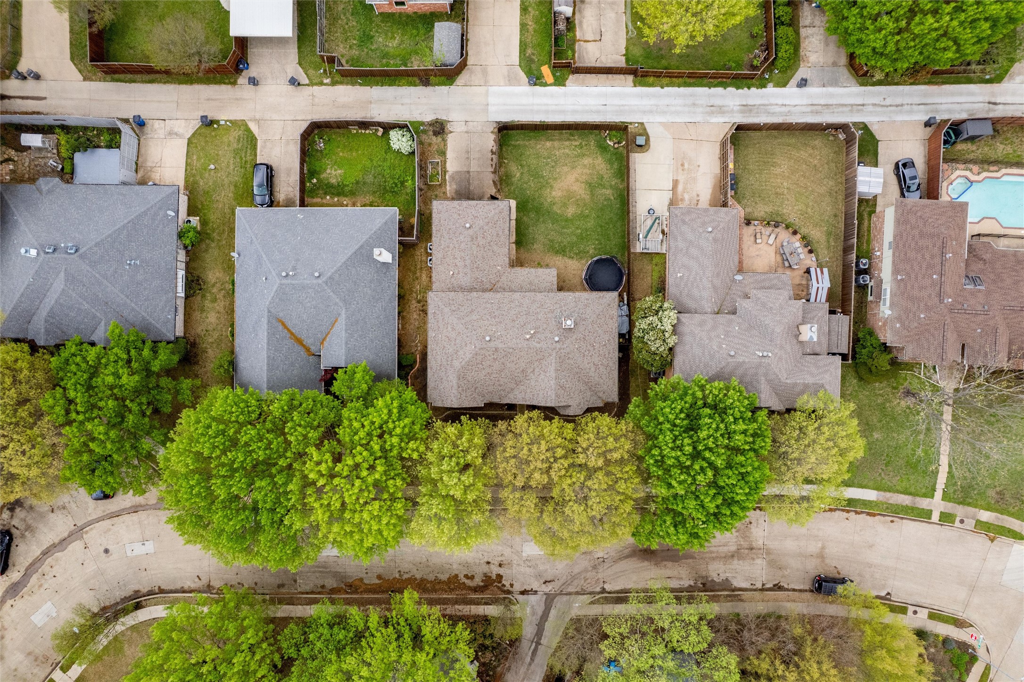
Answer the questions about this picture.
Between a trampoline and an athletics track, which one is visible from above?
trampoline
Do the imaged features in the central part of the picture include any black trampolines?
Yes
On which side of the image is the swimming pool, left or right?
right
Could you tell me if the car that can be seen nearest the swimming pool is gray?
Yes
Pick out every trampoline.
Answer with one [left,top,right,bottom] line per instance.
[583,252,625,291]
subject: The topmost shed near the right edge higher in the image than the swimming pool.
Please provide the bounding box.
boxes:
[955,119,993,141]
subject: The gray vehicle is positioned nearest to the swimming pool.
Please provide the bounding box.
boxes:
[894,156,923,199]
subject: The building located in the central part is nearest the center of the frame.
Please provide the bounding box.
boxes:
[427,200,619,414]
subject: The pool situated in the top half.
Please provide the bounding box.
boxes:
[946,173,1024,230]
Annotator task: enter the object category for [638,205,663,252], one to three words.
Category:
trailer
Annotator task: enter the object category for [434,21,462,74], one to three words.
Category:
shed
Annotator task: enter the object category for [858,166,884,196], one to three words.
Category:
shed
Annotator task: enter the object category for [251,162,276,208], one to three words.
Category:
car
